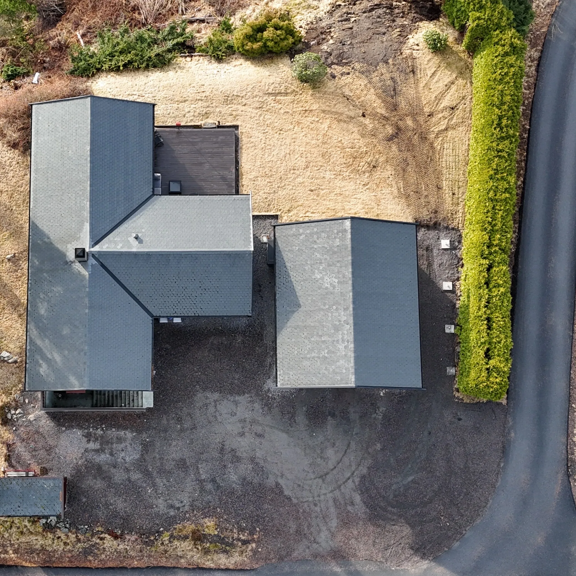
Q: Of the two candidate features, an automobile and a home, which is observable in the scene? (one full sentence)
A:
I can see a home in this picture.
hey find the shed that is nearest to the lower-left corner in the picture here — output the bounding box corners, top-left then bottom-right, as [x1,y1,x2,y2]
[0,475,69,522]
